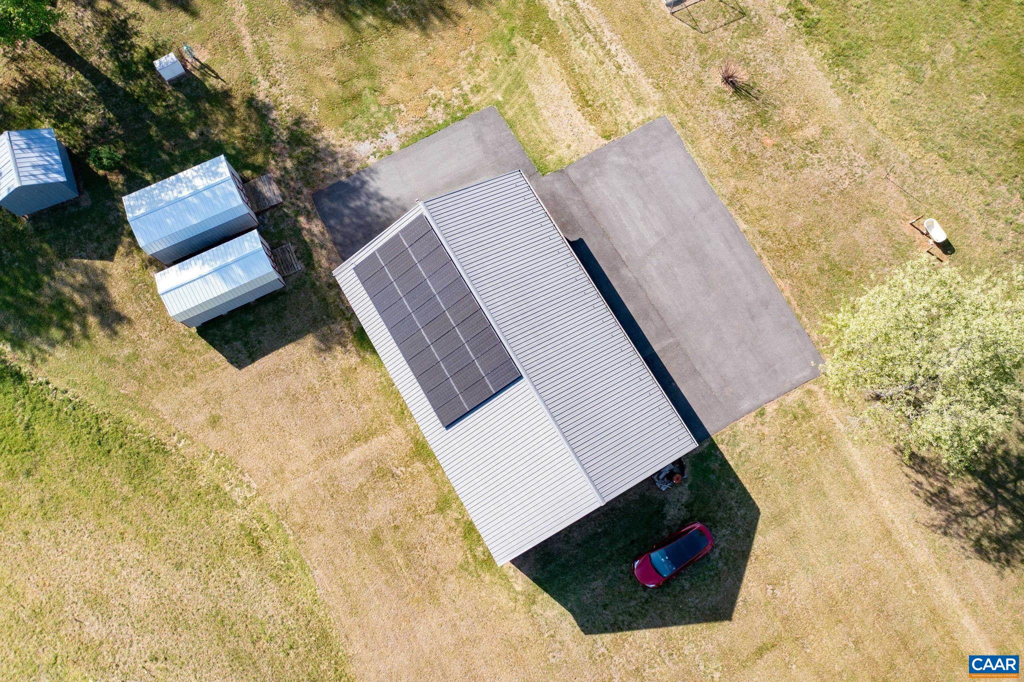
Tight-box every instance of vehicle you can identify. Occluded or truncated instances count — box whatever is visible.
[631,522,718,588]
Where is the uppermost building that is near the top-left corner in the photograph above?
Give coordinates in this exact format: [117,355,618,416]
[154,52,189,89]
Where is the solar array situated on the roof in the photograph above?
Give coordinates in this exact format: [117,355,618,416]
[353,215,521,427]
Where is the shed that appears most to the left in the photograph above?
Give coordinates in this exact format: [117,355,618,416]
[0,128,80,215]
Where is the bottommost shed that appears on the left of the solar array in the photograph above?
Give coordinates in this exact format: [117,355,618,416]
[155,230,285,327]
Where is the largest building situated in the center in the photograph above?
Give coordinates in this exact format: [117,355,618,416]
[332,169,699,567]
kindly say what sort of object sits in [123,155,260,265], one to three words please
shed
